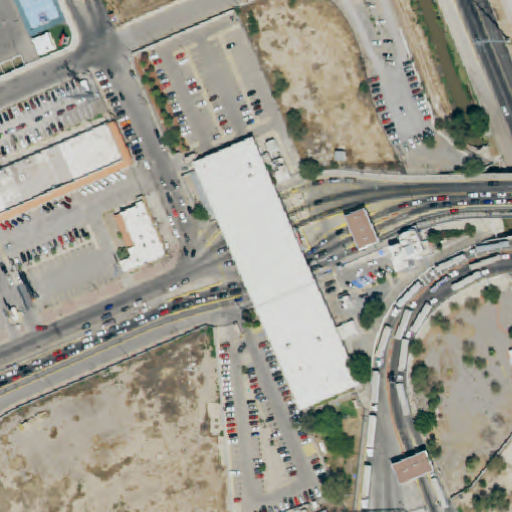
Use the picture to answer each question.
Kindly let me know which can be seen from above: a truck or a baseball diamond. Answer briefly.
truck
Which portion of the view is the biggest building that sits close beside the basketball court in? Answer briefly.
top left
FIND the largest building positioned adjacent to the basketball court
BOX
[32,32,58,56]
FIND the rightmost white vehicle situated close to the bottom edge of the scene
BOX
[426,471,448,508]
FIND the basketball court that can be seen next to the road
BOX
[14,0,64,36]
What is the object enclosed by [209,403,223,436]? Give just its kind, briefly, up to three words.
building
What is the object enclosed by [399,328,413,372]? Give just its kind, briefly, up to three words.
vehicle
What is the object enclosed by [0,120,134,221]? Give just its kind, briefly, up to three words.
building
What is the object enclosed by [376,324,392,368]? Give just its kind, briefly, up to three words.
vehicle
